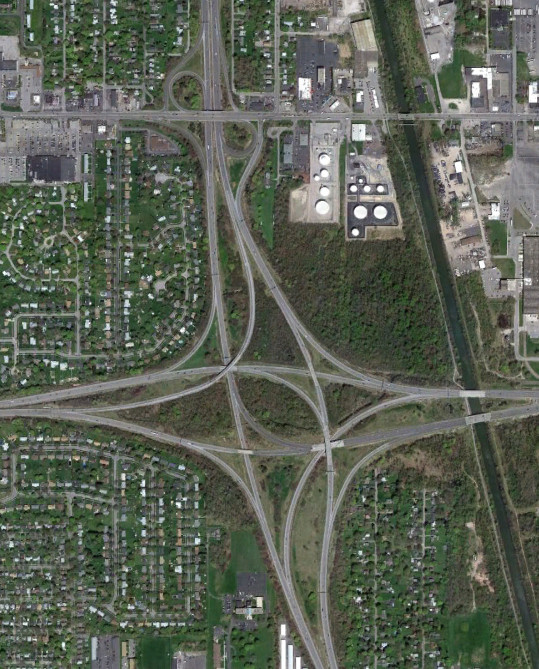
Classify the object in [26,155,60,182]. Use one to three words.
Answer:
building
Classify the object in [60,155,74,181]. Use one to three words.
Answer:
building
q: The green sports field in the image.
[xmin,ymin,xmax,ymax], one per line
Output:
[142,638,170,669]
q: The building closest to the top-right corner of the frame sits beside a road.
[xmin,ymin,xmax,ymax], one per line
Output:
[491,8,508,26]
